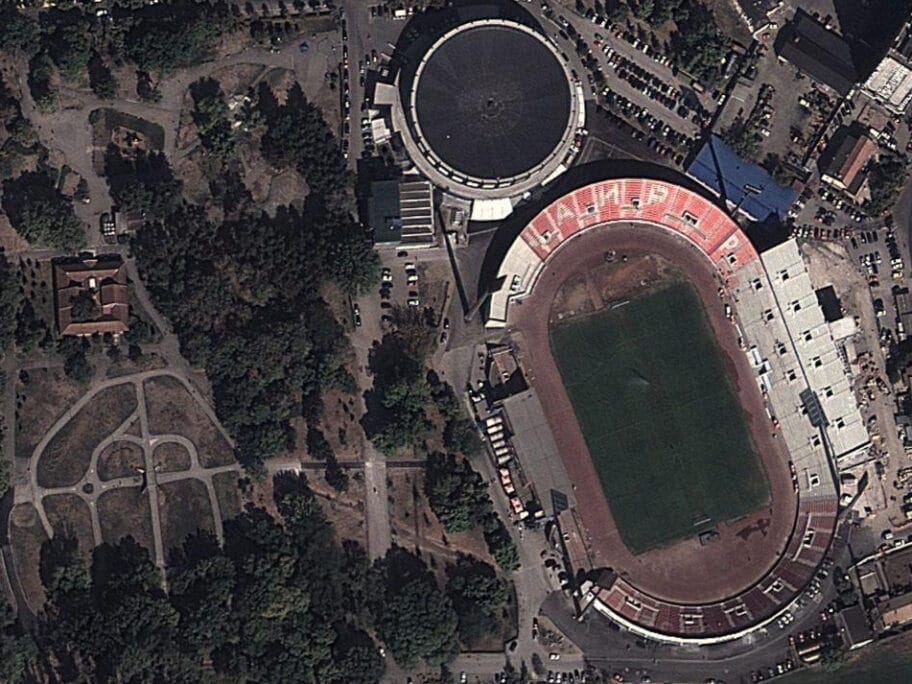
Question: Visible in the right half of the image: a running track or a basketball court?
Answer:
running track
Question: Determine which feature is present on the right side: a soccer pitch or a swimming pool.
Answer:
soccer pitch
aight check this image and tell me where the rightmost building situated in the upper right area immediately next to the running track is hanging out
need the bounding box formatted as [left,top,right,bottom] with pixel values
[684,135,800,224]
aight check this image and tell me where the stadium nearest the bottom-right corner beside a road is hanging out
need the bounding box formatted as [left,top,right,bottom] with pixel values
[487,177,872,646]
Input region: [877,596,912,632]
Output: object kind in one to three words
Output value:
house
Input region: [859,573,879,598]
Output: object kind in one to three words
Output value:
building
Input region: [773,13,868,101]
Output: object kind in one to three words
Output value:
building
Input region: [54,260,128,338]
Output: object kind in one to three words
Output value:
house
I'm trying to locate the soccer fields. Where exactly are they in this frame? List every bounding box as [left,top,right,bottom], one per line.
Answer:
[551,279,771,552]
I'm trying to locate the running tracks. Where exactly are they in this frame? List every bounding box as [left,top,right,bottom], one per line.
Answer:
[522,221,797,605]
